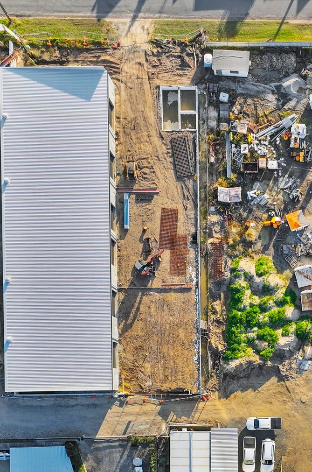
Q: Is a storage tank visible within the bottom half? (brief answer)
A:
No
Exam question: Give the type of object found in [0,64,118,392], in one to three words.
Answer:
shed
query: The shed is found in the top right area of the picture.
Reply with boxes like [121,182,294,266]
[212,49,249,75]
